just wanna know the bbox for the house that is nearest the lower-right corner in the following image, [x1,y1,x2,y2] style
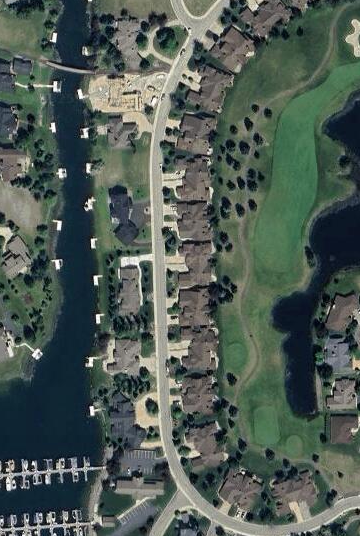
[271,470,319,517]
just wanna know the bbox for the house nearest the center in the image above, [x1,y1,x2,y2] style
[178,240,214,286]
